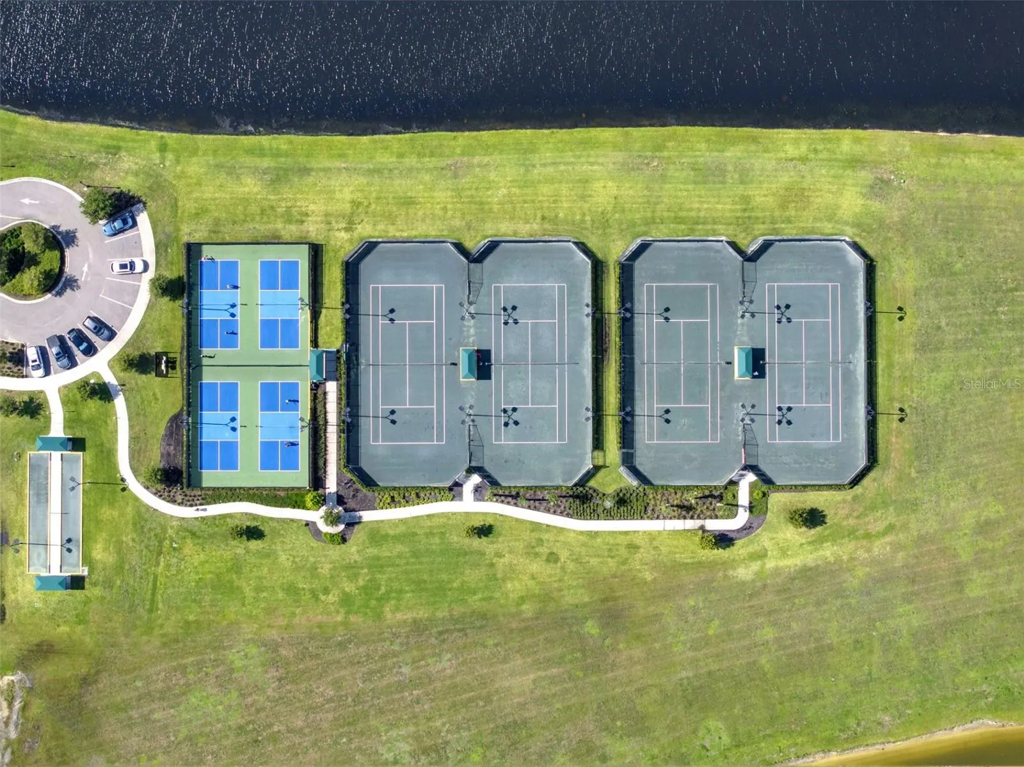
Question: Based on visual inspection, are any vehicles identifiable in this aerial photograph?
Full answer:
Yes, there's a vehicle here.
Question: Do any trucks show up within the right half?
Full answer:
No, I can find no truck within the right half.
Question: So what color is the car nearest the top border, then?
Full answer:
From above, the car nearest the top border appears blue.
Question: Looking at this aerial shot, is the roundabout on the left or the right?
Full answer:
The roundabout sits on the left side.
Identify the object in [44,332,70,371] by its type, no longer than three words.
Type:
truck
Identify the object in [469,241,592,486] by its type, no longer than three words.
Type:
tennis court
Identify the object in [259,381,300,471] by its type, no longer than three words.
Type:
sports court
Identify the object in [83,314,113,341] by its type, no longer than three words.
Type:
car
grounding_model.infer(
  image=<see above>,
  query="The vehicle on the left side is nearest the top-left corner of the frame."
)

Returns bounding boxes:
[102,213,134,234]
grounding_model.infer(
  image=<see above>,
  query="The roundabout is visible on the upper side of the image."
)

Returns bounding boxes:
[0,176,144,378]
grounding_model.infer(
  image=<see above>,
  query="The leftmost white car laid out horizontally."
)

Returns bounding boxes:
[110,258,143,274]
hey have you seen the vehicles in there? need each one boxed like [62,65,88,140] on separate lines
[110,258,143,274]
[102,213,134,234]
[24,345,44,379]
[83,314,113,341]
[64,327,94,357]
[44,332,70,371]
